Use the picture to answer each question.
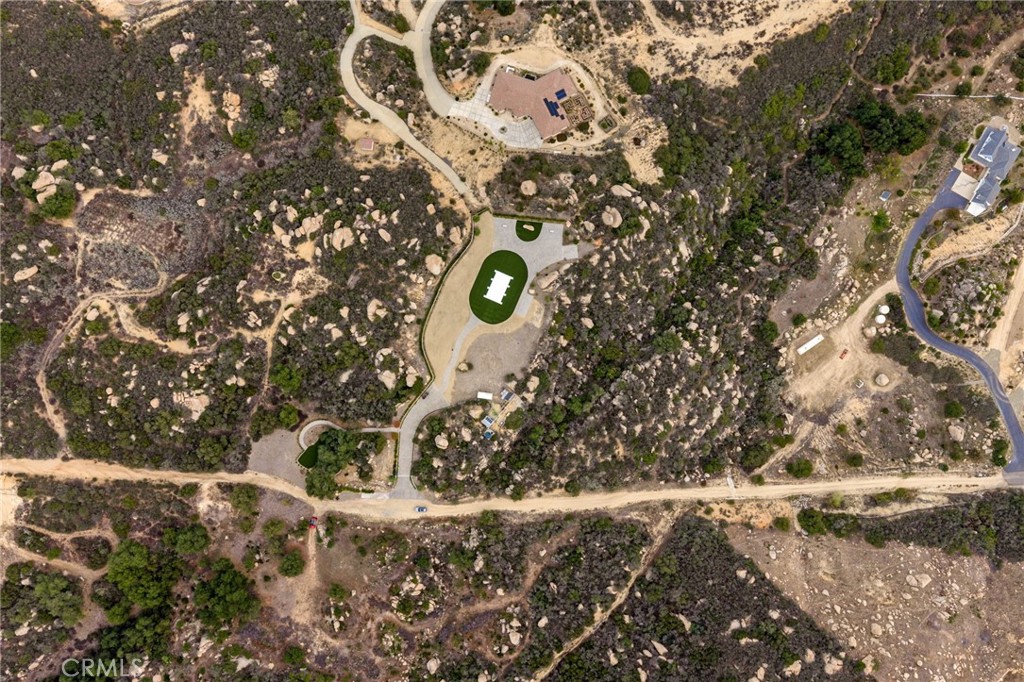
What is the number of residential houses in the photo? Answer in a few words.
two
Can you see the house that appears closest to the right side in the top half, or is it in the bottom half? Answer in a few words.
top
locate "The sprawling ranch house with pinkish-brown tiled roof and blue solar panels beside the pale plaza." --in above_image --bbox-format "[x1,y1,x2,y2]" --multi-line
[487,67,578,141]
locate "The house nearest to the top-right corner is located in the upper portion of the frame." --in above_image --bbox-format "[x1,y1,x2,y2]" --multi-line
[965,124,1021,217]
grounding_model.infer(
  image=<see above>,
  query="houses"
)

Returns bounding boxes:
[965,124,1021,217]
[487,67,578,141]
